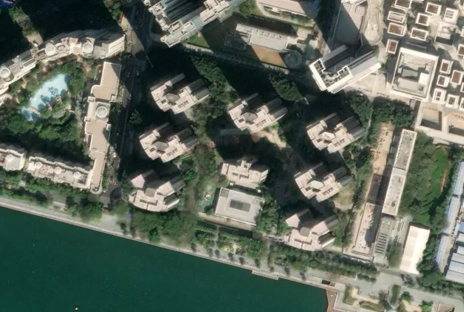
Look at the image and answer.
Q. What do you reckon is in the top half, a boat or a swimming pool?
swimming pool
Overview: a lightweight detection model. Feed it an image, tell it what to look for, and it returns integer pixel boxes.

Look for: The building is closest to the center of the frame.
[221,156,272,189]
